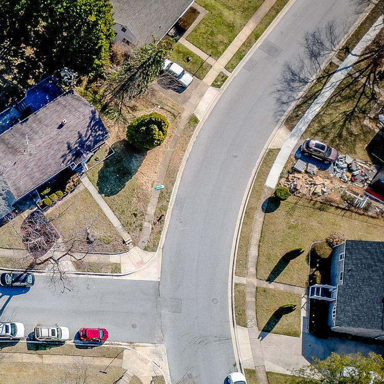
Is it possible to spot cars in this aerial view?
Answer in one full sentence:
Yes, a car can be made out from above.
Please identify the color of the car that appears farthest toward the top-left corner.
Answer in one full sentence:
The car that appears farthest toward the top-left corner looks white in the image.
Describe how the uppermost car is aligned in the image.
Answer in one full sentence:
The uppermost car runs at an angle in the image.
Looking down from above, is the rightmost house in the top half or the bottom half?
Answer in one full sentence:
It is in the bottom half that the rightmost house appears.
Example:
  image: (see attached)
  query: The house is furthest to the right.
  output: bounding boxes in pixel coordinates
[325,241,384,335]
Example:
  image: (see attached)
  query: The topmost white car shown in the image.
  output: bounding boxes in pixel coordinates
[157,56,197,91]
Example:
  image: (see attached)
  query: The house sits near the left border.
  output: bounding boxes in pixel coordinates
[0,85,110,217]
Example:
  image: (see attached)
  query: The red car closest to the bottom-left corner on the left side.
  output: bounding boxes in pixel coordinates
[77,327,110,344]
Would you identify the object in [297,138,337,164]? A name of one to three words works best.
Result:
car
